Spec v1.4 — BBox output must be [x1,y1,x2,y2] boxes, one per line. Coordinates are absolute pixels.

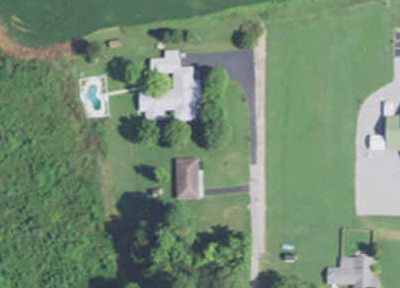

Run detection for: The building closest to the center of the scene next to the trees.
[176,158,204,200]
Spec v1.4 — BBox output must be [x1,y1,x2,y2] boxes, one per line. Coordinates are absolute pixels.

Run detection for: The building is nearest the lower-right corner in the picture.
[328,256,380,288]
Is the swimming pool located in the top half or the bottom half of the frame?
top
